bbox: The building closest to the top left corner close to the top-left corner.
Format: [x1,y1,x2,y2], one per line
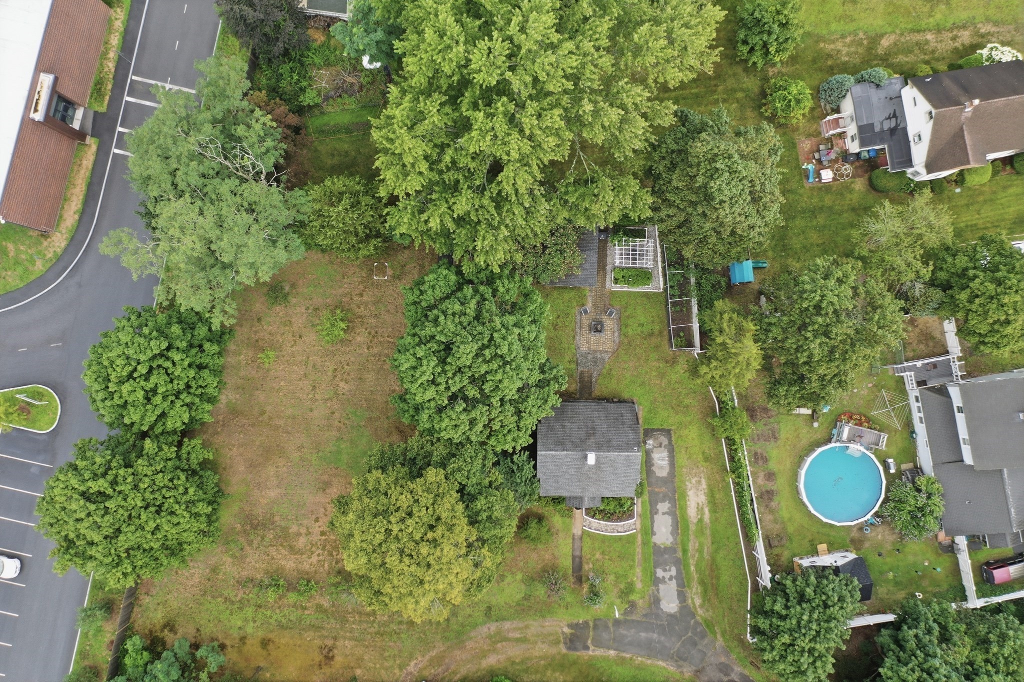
[0,0,113,234]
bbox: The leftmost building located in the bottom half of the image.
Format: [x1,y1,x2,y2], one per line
[537,399,642,507]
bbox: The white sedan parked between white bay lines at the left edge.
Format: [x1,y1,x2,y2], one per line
[0,557,20,580]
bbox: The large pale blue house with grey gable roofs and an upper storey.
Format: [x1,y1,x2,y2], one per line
[905,366,1024,552]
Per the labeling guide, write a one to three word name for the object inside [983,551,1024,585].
van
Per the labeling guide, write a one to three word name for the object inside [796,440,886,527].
swimming pool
